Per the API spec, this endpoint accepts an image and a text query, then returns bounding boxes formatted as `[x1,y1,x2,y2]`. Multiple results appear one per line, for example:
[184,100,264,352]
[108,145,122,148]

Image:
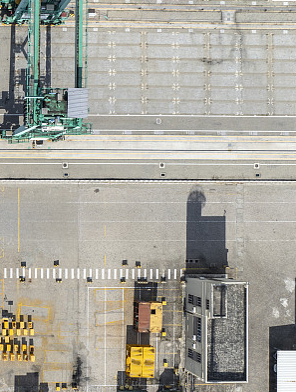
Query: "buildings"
[269,351,296,392]
[184,279,249,386]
